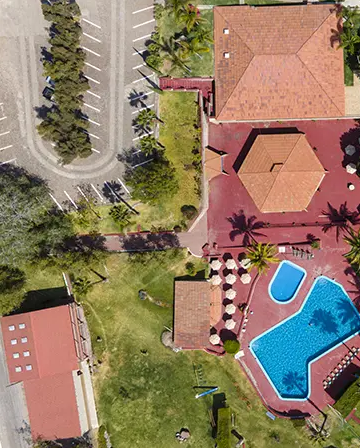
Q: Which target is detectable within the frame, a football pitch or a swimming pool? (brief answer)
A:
swimming pool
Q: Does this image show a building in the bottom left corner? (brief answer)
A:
Yes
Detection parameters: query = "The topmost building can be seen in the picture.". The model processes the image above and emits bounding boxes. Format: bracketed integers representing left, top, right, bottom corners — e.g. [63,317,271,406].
[214,0,360,124]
